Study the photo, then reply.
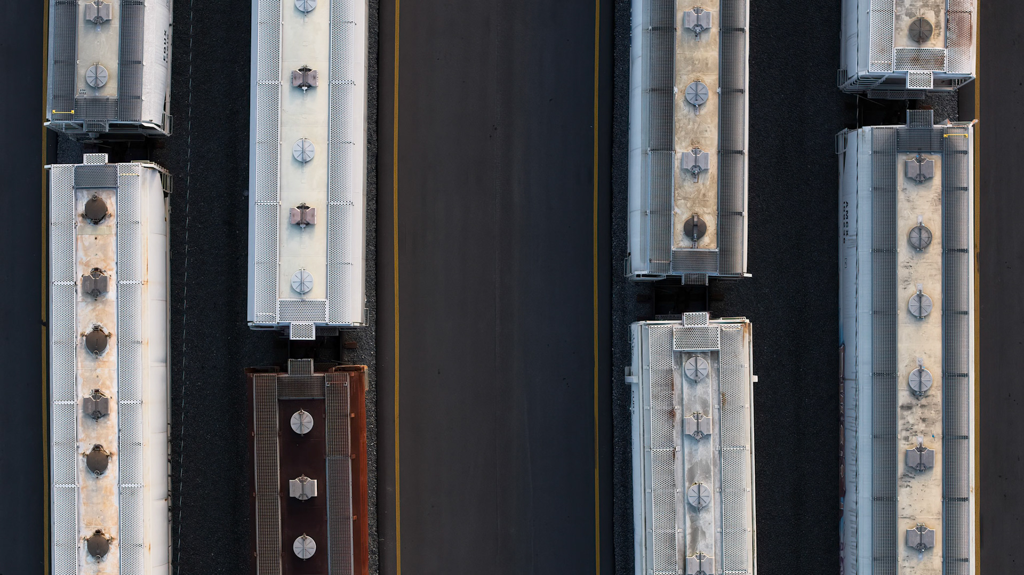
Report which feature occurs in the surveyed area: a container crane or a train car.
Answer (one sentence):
This aerial view contains a train car.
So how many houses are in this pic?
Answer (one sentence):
I count no houses.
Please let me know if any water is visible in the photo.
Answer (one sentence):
No, the picture contains no water.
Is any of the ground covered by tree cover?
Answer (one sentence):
No, no tree cover is visible.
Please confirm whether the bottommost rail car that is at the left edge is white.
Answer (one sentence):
Yes, the bottommost rail car that is at the left edge is indeed white.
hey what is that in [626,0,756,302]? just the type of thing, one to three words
rail car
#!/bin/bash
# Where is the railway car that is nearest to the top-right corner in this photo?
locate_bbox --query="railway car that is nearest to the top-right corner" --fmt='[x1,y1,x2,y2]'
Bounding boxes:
[836,0,976,113]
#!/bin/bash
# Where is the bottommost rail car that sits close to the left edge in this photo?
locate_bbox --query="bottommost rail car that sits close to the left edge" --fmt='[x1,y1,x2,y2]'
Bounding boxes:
[42,146,176,575]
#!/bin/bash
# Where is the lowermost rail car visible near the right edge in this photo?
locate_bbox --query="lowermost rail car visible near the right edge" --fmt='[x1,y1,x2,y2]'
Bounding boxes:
[836,109,977,575]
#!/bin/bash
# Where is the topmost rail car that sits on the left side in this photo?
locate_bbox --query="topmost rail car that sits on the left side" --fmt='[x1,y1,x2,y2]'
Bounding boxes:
[42,0,176,156]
